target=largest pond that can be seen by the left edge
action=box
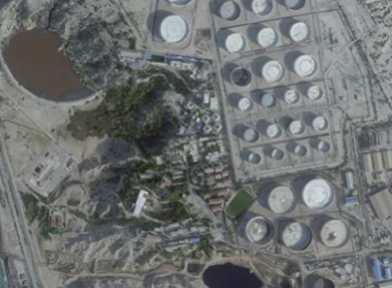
[3,30,89,101]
